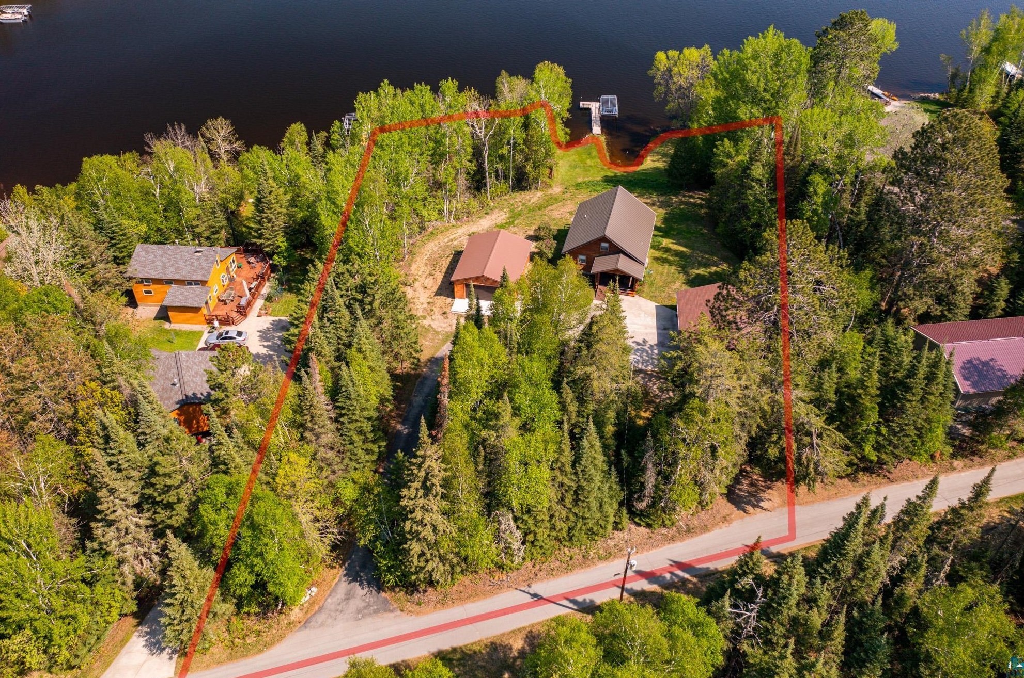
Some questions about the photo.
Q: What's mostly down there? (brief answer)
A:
trees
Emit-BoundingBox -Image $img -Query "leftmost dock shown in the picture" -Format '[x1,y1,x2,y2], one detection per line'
[578,95,603,136]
